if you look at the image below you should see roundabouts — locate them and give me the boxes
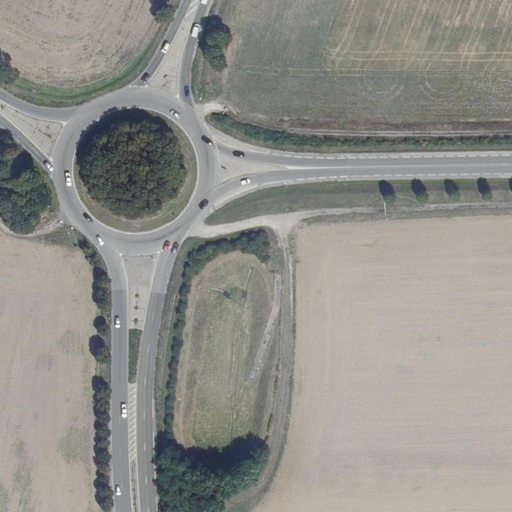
[50,84,221,256]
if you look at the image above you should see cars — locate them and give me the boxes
[122,404,127,416]
[114,317,120,327]
[96,236,104,246]
[240,178,250,184]
[172,242,178,254]
[116,486,121,496]
[232,151,244,156]
[142,72,149,82]
[200,135,212,144]
[45,161,54,171]
[66,173,72,186]
[163,240,169,251]
[199,198,208,209]
[83,212,94,222]
[184,86,189,96]
[162,41,170,52]
[169,108,180,118]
